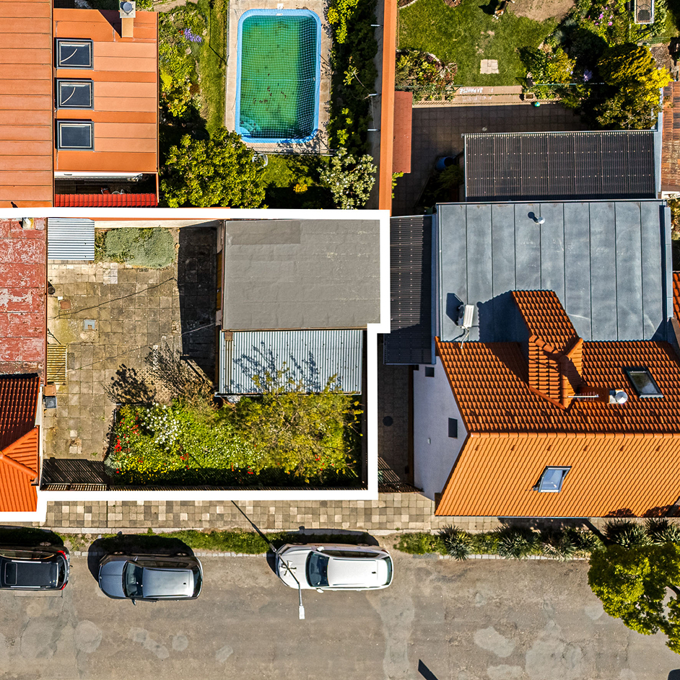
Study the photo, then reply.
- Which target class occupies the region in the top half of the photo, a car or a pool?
pool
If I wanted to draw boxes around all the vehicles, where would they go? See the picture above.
[0,542,69,591]
[279,541,391,597]
[101,550,203,606]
